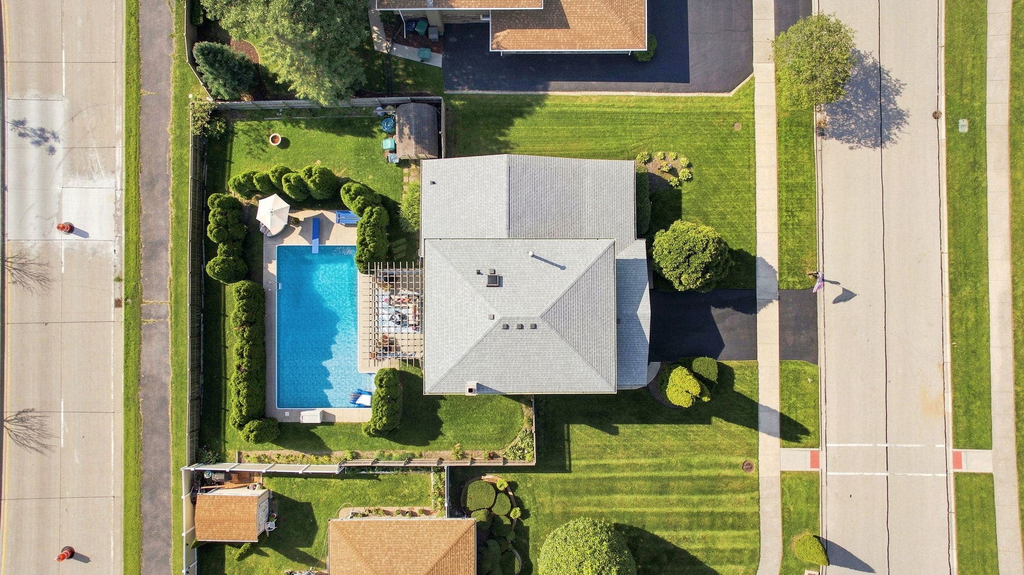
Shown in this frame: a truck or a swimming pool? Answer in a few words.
swimming pool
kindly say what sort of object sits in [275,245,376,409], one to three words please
swimming pool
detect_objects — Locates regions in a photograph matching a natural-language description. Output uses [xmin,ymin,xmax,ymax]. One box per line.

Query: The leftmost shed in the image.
[192,488,269,543]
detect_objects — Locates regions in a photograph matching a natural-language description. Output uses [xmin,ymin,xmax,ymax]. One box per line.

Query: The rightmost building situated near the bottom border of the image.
[327,515,477,575]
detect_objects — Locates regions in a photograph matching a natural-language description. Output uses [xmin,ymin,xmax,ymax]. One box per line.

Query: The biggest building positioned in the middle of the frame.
[420,154,653,397]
